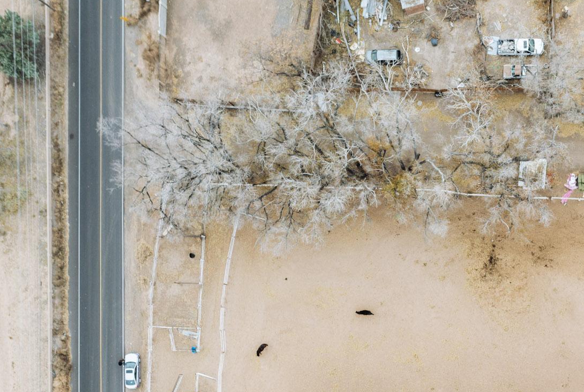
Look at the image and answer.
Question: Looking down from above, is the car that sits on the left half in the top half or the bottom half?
bottom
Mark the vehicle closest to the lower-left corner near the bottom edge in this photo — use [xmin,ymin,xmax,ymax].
[123,352,144,389]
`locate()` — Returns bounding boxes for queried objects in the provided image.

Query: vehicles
[123,352,144,389]
[501,62,538,81]
[365,46,402,66]
[499,36,544,57]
